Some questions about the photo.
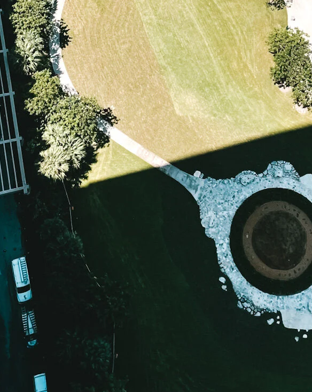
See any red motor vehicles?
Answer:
No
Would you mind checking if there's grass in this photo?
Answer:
Yes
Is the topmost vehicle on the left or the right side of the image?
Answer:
left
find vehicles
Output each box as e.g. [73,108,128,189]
[31,369,49,392]
[17,310,41,356]
[10,255,33,308]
